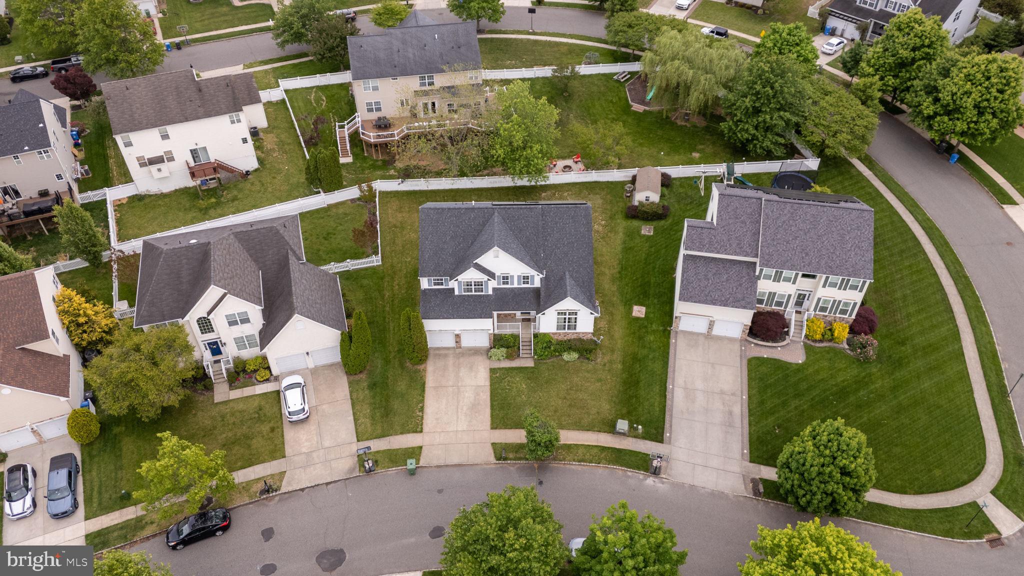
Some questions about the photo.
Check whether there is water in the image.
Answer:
No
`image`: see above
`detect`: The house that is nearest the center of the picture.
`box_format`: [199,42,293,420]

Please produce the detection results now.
[418,200,603,357]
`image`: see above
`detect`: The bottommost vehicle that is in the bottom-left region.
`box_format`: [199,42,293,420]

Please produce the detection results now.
[163,508,232,549]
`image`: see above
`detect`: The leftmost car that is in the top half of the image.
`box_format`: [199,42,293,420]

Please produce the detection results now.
[9,66,47,80]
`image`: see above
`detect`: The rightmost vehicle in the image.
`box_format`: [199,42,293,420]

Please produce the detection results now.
[824,37,848,53]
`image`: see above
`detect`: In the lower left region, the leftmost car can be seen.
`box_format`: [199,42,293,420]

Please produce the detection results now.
[0,463,34,519]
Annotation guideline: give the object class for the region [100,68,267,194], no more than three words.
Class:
house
